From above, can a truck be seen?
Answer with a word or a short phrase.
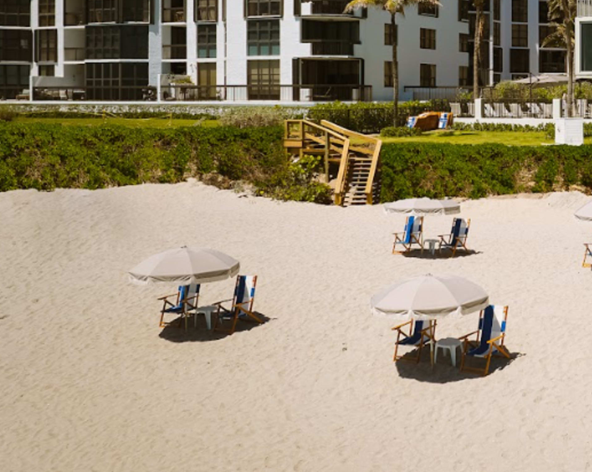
No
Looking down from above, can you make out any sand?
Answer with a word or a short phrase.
Yes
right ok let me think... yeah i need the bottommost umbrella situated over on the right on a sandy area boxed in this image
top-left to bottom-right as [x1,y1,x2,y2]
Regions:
[373,275,488,368]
